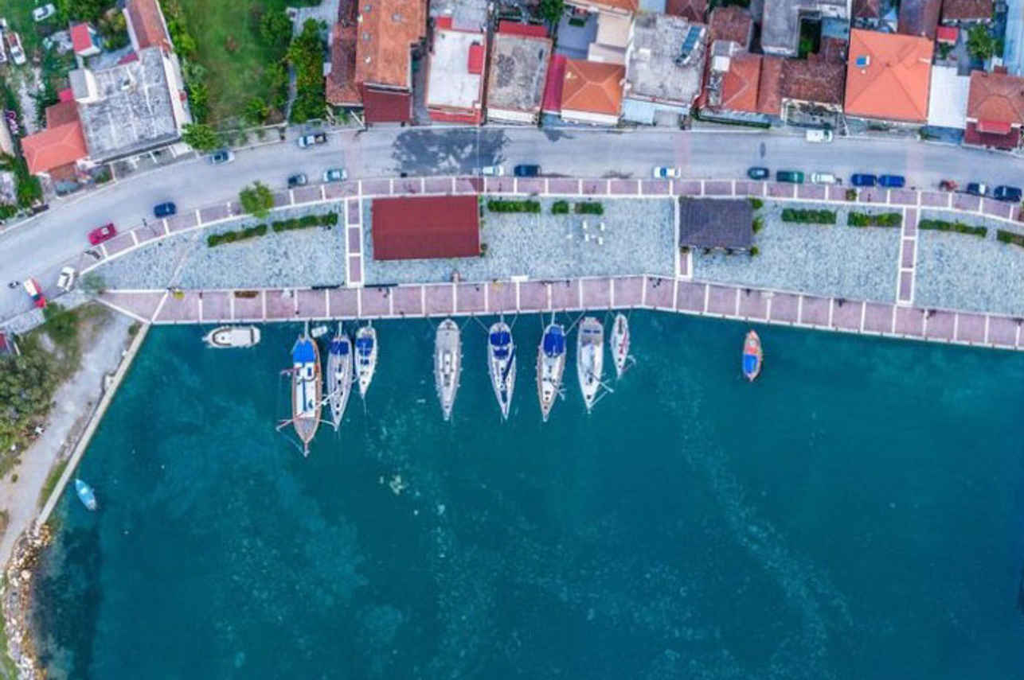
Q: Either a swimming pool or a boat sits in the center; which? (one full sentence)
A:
What appears in the center is a boat.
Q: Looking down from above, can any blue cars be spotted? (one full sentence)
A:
Yes, looking at the shot, I can spot a blue car.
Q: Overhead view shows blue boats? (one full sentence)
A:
Yes, the image includes a blue boat.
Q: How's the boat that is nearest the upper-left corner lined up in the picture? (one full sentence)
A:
The boat that is nearest the upper-left corner is oriented horizontally.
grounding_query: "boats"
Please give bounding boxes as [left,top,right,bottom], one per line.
[75,479,97,510]
[566,310,610,411]
[306,320,352,430]
[427,314,473,421]
[200,320,267,349]
[741,329,763,382]
[535,310,583,423]
[313,326,328,336]
[609,307,636,379]
[477,312,518,421]
[344,319,378,399]
[273,320,323,460]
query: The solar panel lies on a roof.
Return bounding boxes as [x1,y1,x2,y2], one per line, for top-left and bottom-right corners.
[681,26,706,50]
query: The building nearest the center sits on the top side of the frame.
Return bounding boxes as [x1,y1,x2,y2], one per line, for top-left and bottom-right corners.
[371,196,482,260]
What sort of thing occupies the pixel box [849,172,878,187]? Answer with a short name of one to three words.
car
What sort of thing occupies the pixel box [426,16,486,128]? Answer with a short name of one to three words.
house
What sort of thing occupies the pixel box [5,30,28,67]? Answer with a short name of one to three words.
vehicle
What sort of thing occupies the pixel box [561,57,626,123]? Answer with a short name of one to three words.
house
